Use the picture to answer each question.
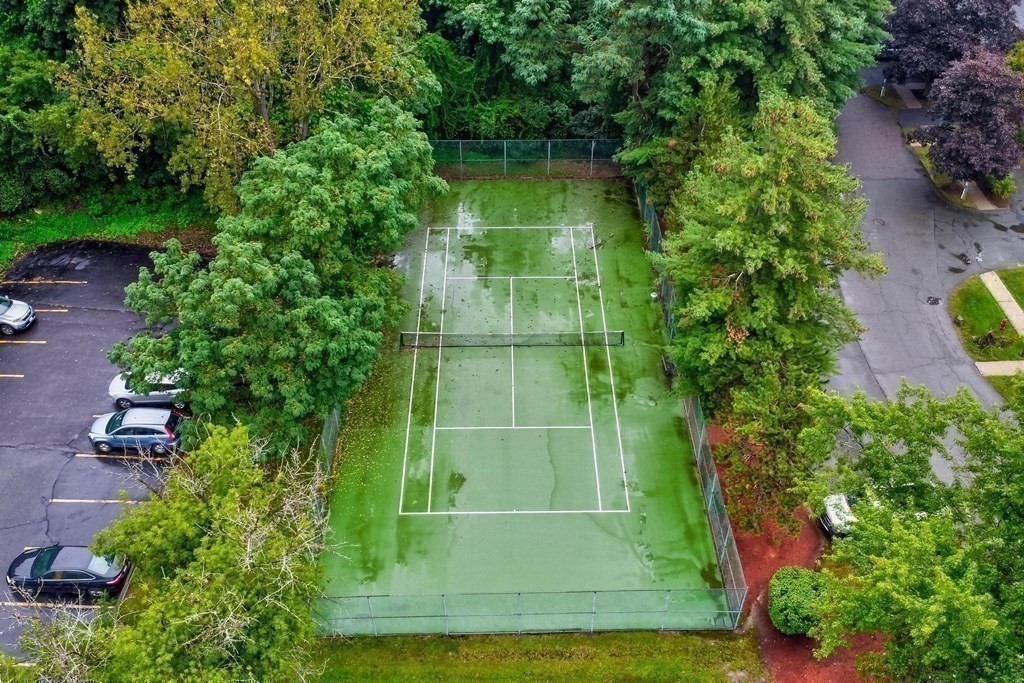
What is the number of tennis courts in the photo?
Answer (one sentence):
I count just 1 tennis court.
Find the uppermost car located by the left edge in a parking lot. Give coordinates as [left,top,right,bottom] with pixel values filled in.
[0,297,39,336]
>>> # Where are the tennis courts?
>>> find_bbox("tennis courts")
[304,177,732,634]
